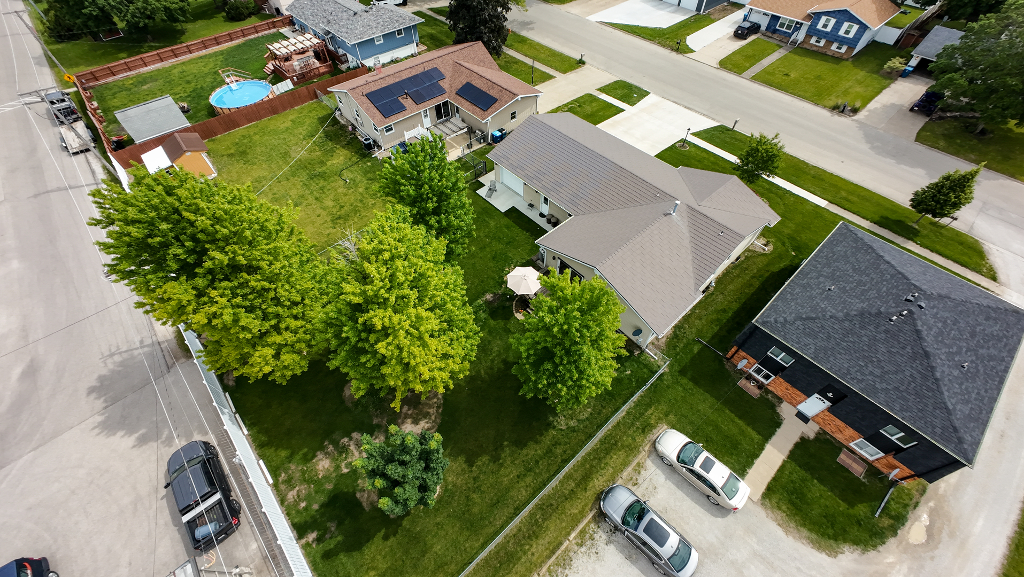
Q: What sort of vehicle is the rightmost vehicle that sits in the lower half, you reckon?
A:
car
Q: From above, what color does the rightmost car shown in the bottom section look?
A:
white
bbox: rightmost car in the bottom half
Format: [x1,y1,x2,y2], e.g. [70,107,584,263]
[654,426,750,514]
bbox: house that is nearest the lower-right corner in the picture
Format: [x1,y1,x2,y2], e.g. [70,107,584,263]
[695,222,1024,517]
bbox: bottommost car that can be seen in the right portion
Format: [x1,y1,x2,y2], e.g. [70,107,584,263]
[599,483,702,577]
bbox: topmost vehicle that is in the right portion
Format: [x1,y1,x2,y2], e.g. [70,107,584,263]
[733,16,761,36]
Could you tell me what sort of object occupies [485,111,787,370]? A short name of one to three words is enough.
house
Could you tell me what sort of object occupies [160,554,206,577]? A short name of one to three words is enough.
trailer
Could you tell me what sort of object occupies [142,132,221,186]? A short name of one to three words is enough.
shed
